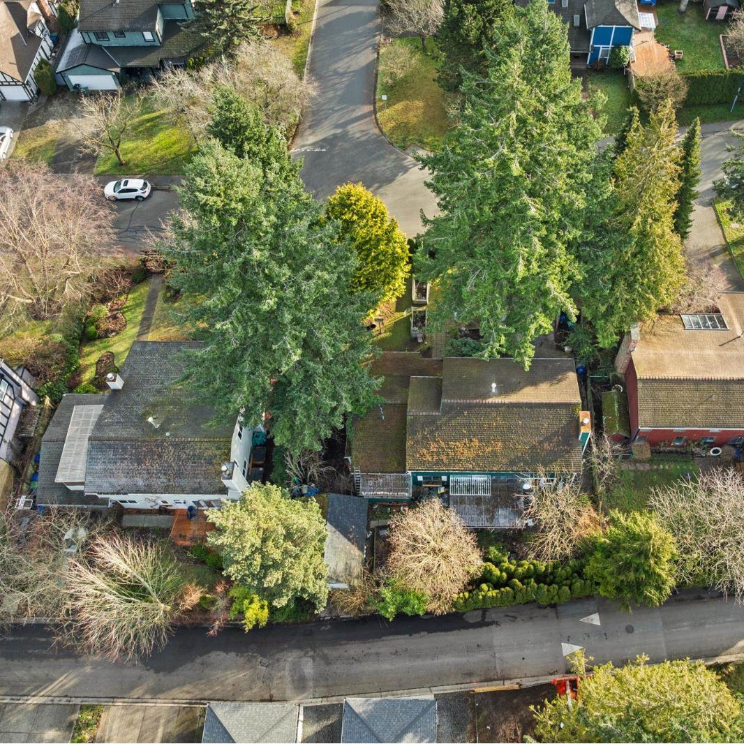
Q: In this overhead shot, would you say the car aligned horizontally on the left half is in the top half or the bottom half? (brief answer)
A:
top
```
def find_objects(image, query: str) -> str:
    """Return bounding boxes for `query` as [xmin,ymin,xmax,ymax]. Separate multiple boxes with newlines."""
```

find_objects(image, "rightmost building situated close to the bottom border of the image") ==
[339,697,436,744]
